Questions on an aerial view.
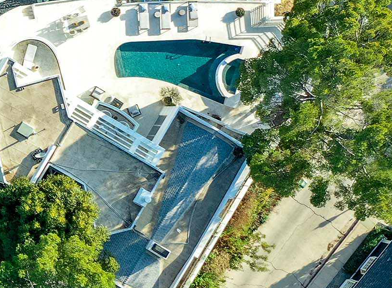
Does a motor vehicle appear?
No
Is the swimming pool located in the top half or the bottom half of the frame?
top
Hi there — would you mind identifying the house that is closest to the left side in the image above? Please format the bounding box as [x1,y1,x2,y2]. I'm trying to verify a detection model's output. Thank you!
[0,35,252,288]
